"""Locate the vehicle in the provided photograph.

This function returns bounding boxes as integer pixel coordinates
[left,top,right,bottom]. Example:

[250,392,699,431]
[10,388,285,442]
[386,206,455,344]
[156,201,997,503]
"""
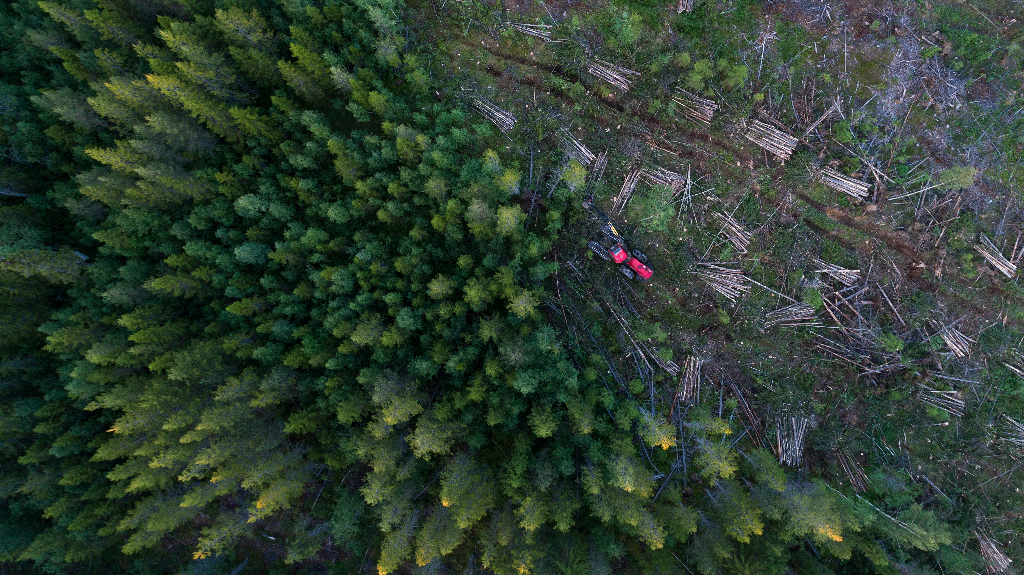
[582,194,654,281]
